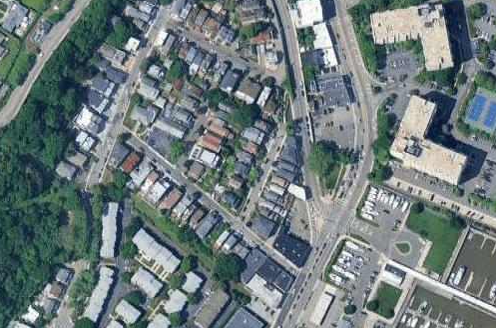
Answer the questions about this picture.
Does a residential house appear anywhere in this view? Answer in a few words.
Yes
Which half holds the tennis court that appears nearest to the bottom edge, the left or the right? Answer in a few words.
right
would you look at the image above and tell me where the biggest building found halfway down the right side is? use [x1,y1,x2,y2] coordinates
[391,96,467,185]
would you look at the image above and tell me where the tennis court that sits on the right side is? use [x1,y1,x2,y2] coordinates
[465,88,496,135]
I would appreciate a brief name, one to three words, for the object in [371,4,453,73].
building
